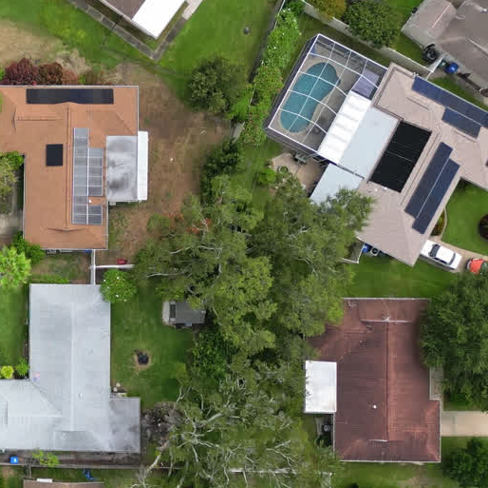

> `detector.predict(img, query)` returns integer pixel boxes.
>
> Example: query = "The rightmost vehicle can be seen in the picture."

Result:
[462,256,488,278]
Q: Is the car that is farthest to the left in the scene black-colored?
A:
No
